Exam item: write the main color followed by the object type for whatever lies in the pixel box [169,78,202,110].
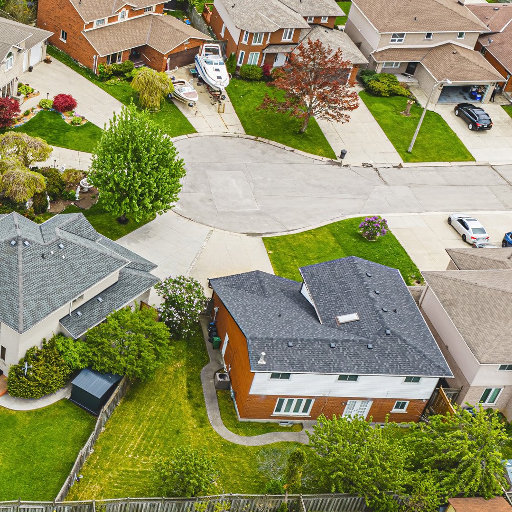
white boat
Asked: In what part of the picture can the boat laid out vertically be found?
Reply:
top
